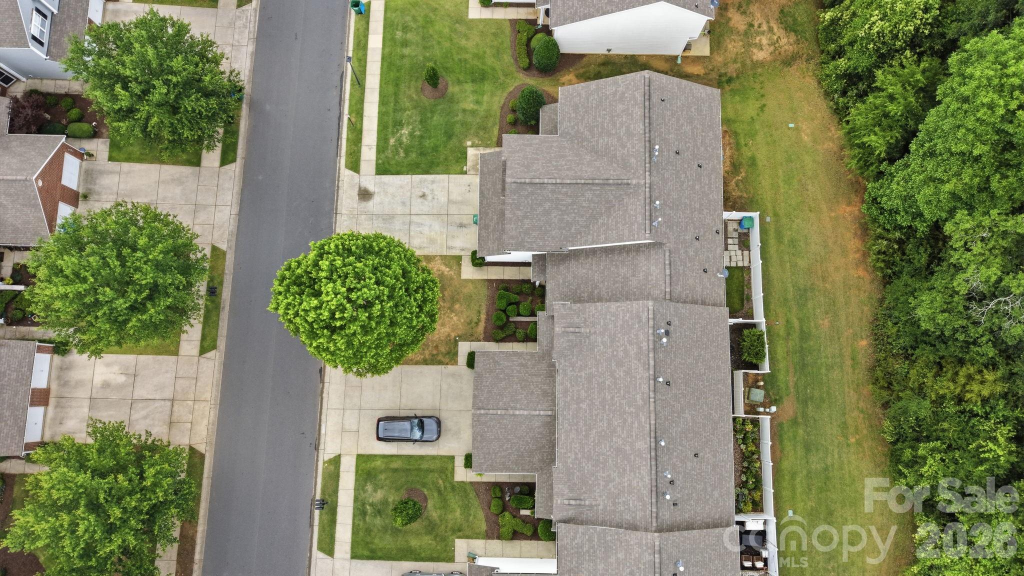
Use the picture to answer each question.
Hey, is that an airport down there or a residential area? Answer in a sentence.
The area seen from above is a residential area.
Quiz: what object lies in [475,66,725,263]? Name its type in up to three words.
house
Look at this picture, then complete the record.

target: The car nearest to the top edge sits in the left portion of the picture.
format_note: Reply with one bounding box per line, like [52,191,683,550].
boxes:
[374,412,441,446]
